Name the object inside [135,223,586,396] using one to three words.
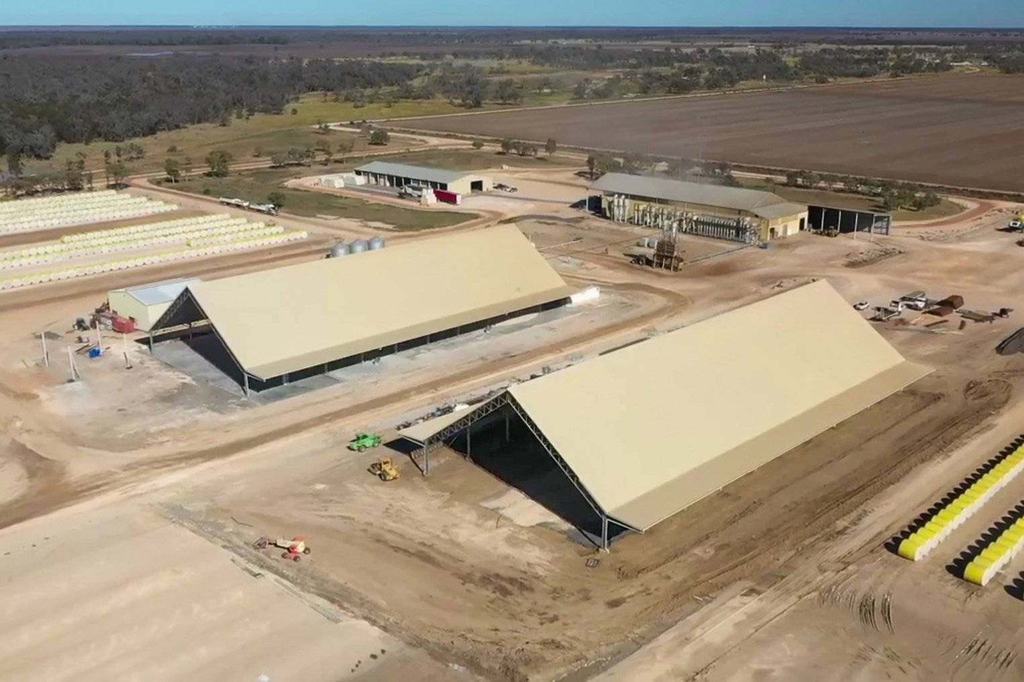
shed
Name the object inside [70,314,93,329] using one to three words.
work vehicle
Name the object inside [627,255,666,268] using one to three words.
vehicle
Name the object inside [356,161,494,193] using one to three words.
shed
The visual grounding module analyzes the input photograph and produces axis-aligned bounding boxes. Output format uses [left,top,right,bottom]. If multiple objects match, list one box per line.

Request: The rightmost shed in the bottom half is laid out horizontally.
[395,280,940,555]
